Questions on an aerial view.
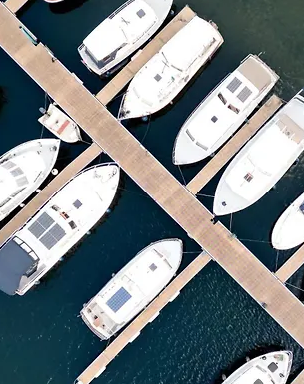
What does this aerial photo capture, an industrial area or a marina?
marina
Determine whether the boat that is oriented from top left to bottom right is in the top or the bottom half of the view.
top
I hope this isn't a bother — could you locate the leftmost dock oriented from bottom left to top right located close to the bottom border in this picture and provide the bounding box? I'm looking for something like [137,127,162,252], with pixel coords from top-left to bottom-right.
[77,247,218,384]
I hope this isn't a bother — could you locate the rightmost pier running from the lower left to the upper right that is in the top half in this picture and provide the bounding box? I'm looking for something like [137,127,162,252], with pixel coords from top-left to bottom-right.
[185,94,284,197]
